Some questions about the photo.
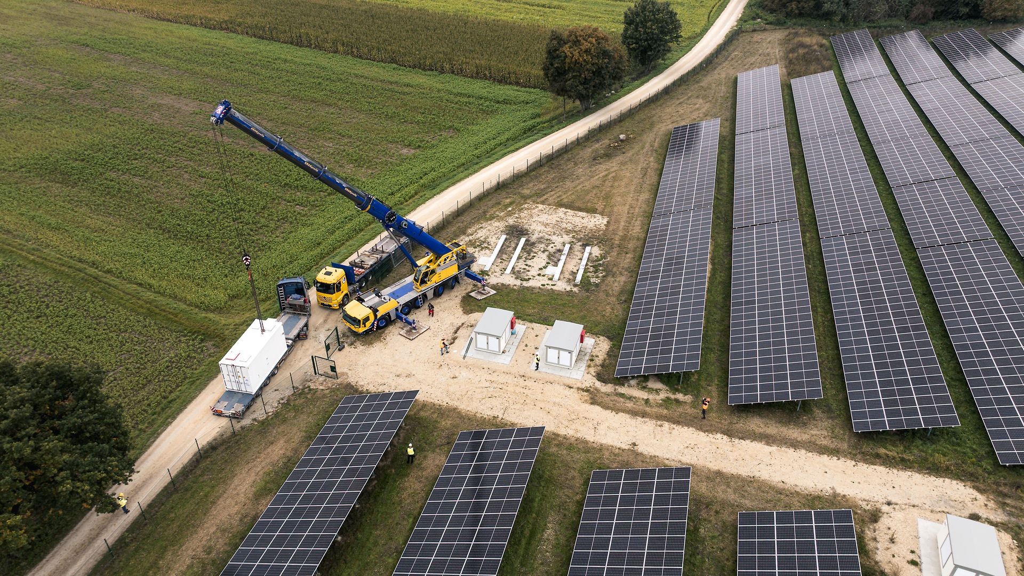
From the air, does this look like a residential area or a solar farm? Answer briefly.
solar farm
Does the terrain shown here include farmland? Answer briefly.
Yes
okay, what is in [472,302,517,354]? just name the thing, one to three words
shed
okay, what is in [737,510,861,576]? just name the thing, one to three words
solar array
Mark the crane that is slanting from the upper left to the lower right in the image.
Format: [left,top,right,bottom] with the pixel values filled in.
[208,103,484,336]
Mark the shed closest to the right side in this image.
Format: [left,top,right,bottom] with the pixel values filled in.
[939,511,1005,576]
